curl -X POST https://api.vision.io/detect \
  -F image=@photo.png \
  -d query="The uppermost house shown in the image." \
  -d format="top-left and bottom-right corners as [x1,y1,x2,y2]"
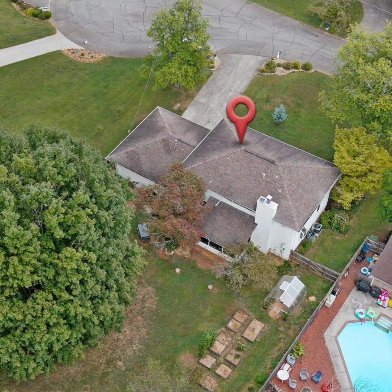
[104,106,344,263]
